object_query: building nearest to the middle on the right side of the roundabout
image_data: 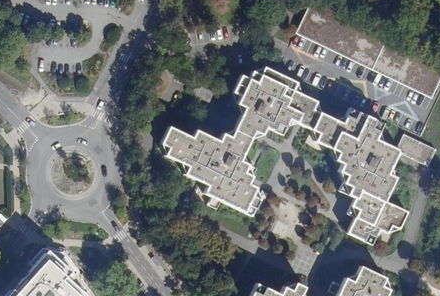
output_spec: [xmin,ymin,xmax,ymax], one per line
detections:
[160,68,304,216]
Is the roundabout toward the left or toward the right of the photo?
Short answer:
left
